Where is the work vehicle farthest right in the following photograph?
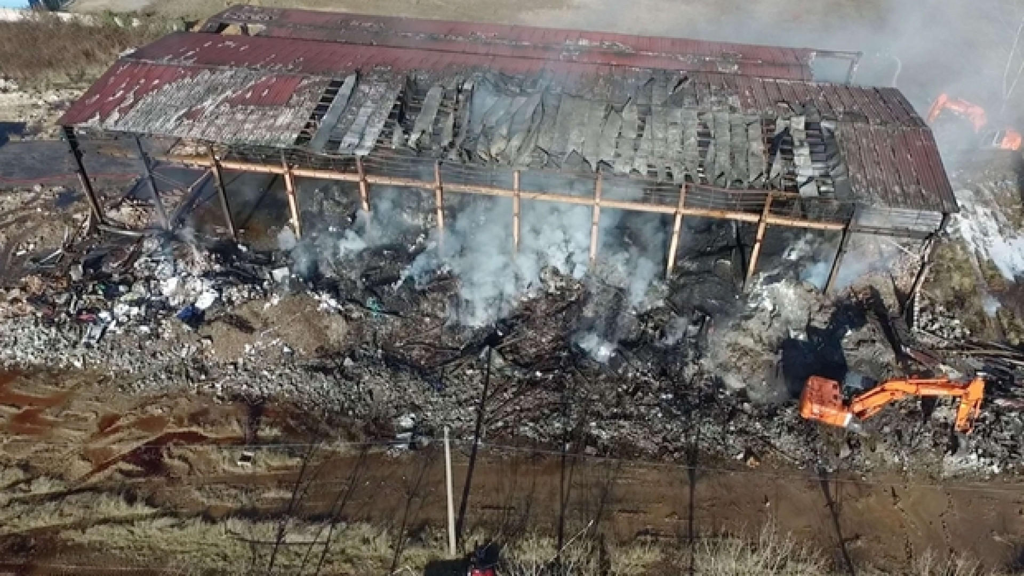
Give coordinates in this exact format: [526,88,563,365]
[926,89,1024,168]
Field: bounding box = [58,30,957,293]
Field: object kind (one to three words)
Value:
shed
